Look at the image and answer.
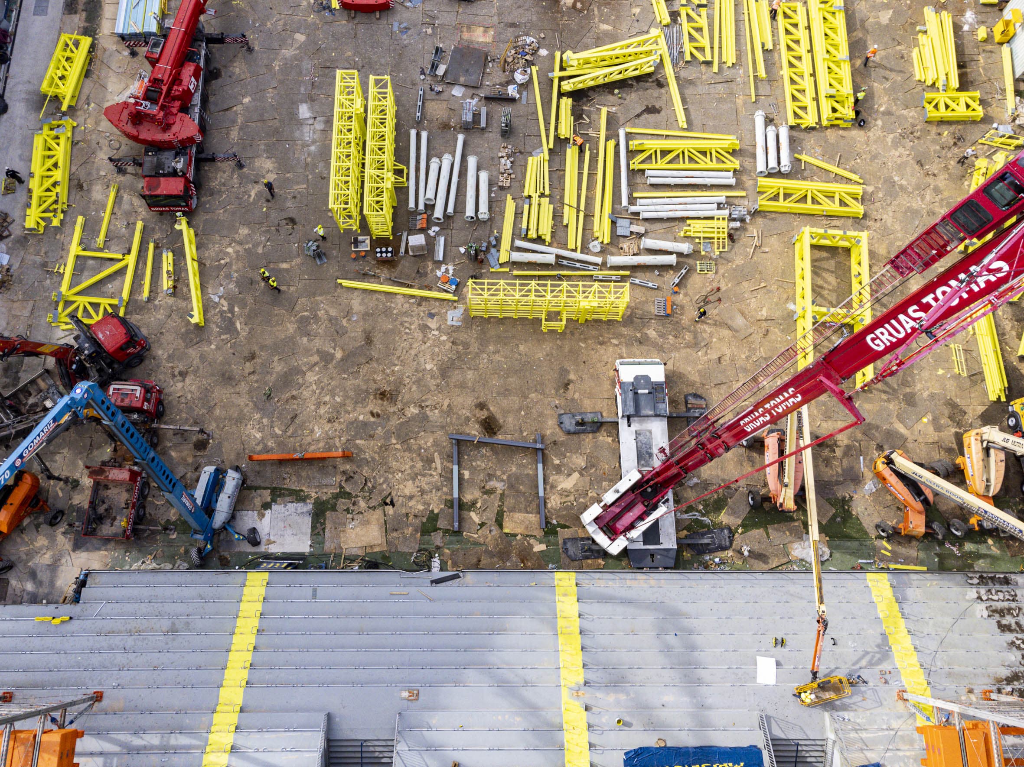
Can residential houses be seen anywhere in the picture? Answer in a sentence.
No, there appears to be no residential house in this shot.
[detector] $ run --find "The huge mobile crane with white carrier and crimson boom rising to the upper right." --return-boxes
[573,147,1024,570]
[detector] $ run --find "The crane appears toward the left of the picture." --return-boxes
[102,0,254,212]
